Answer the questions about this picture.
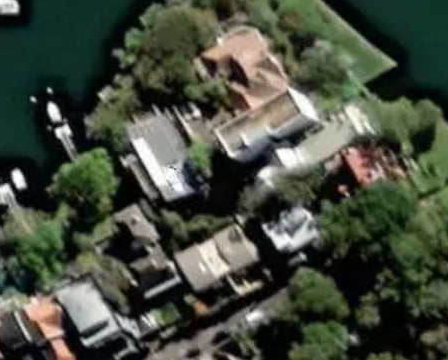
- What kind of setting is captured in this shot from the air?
residential area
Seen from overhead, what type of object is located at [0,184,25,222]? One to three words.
pier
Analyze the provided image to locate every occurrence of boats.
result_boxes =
[12,169,26,191]
[48,102,62,123]
[0,0,18,13]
